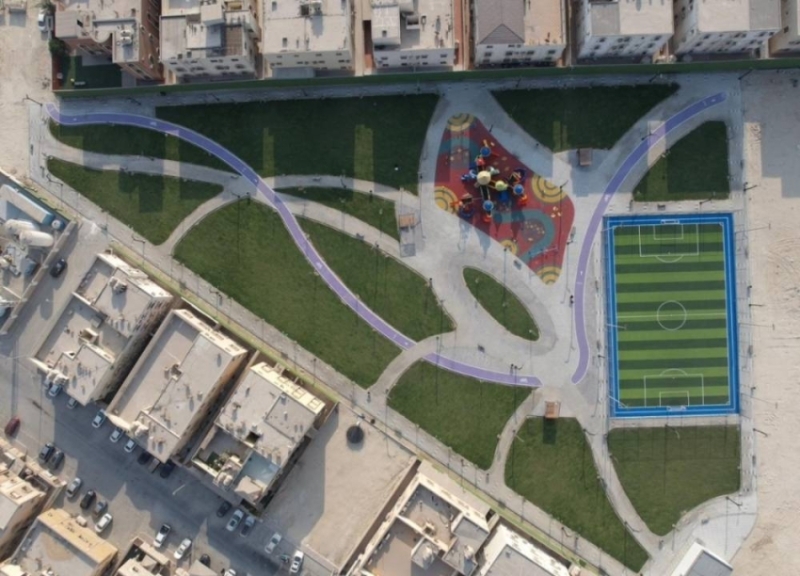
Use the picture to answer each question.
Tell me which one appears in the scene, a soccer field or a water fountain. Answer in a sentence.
Visible in the photo is a soccer field.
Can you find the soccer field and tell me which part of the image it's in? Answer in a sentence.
Look in the right portion of the view to spot the soccer field.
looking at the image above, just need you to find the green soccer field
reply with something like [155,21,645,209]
[605,213,738,417]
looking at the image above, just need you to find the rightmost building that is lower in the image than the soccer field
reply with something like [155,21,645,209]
[670,542,733,576]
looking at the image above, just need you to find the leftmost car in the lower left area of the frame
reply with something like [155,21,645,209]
[2,417,22,438]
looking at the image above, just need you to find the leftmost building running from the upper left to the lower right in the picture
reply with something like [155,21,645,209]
[0,184,60,225]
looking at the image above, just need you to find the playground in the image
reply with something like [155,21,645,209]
[434,112,575,285]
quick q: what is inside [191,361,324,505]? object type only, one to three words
building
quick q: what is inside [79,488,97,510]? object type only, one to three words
car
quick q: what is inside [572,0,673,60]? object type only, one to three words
building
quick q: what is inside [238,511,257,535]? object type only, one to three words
vehicle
